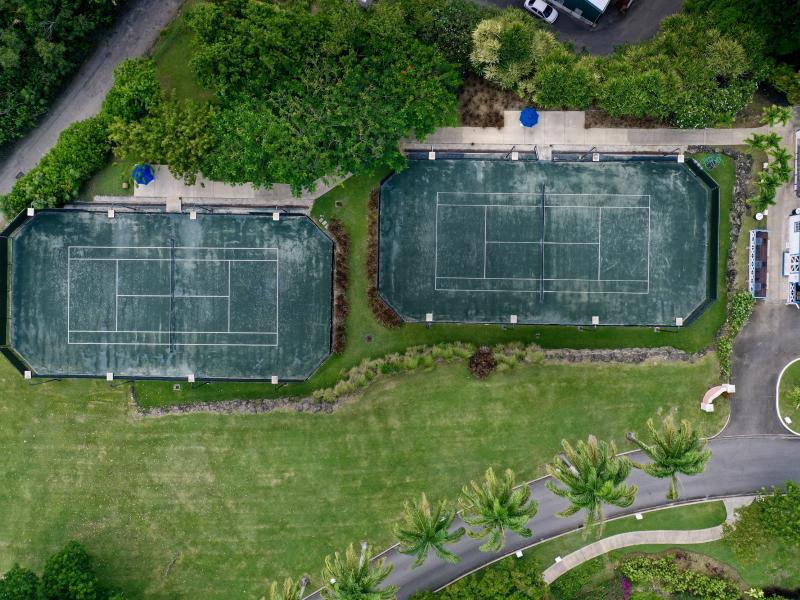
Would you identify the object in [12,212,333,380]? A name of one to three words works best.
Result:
tennis court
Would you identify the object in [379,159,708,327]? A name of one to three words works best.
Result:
tennis court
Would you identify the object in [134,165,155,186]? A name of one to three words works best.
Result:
umbrella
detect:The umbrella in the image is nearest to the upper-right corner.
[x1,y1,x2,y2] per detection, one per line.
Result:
[517,109,537,128]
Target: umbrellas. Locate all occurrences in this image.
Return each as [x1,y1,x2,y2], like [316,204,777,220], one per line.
[517,109,537,128]
[134,165,155,186]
